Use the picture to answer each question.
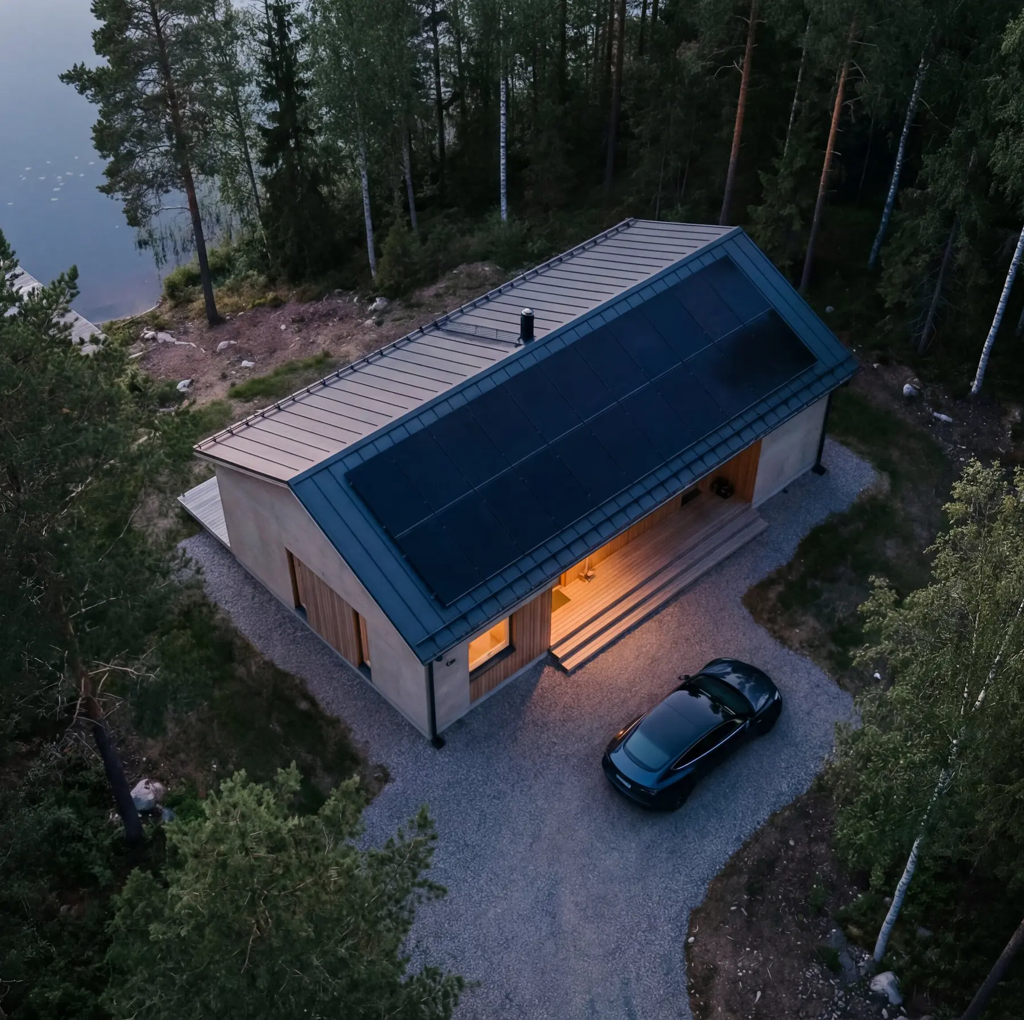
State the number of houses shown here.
1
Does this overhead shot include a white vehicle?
No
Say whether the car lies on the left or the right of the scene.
right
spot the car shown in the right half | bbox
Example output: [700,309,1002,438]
[603,656,787,811]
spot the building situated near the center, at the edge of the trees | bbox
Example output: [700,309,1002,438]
[194,215,862,750]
